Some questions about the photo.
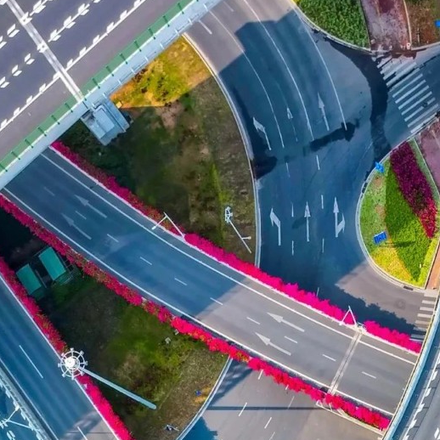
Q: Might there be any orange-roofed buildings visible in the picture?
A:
No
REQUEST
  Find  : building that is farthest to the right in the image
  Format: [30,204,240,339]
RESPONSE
[38,245,72,284]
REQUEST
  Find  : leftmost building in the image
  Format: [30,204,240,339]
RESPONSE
[18,263,47,298]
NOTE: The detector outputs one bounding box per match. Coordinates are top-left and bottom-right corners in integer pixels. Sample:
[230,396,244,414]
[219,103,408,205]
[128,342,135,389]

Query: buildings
[18,263,47,298]
[38,245,72,284]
